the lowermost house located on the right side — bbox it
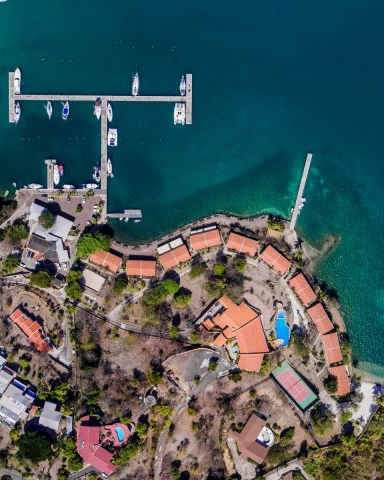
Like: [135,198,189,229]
[227,412,268,460]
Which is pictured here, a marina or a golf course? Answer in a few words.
marina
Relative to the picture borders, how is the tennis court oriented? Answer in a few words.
diagonally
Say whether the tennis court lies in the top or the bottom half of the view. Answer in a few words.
bottom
